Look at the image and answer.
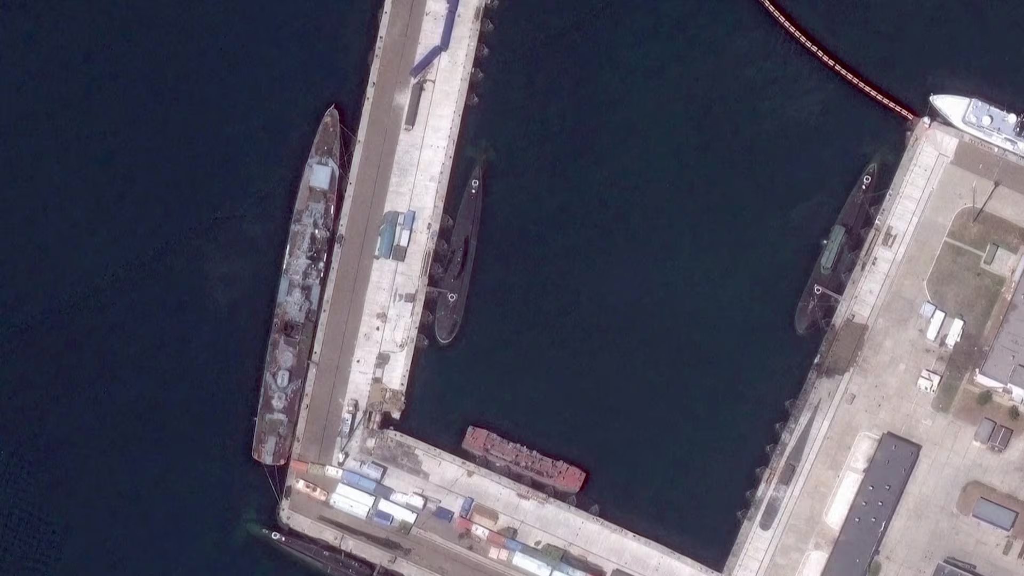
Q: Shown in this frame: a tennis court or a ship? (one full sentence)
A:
Of the two, only a ship appears.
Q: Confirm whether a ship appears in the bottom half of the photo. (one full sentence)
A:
Yes, a ship shows up in the bottom half of the photo.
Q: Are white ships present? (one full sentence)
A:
Yes, the photo shows a white ship.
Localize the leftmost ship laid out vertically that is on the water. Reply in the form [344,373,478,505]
[252,103,340,466]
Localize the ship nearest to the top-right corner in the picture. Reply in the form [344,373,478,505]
[929,94,1024,159]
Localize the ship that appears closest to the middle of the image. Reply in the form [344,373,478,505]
[436,167,480,345]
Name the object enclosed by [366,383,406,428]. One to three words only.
shed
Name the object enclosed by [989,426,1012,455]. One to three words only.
building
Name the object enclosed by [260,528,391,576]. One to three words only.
ship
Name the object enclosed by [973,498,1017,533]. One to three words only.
house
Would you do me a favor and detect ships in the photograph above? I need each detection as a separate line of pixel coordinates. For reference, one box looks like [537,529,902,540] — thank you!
[436,167,480,345]
[260,528,391,576]
[795,165,875,336]
[463,425,586,493]
[252,103,340,466]
[929,94,1024,159]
